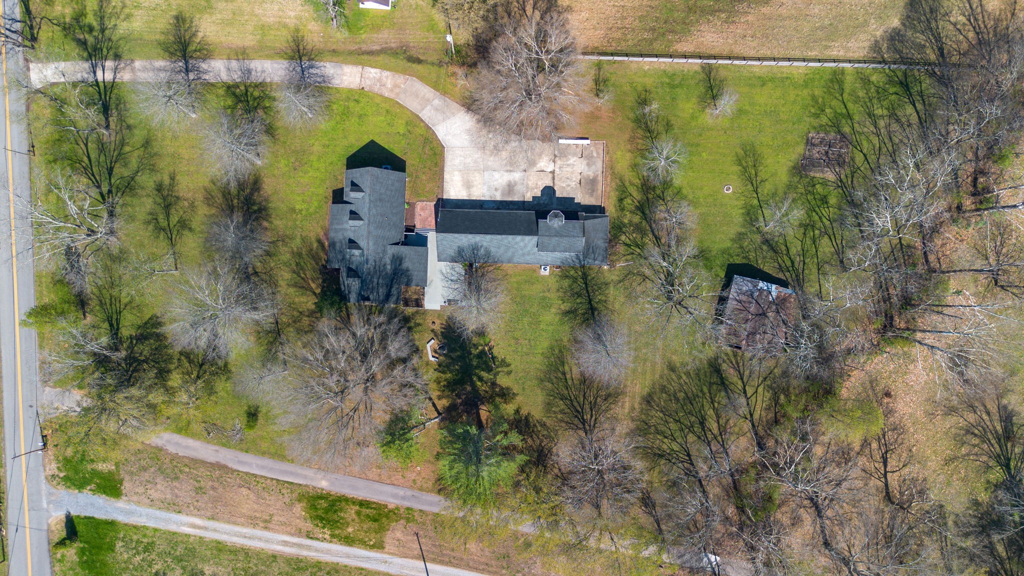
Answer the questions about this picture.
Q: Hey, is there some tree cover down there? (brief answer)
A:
Yes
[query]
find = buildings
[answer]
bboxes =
[436,208,610,266]
[353,0,392,9]
[716,275,795,348]
[327,167,429,304]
